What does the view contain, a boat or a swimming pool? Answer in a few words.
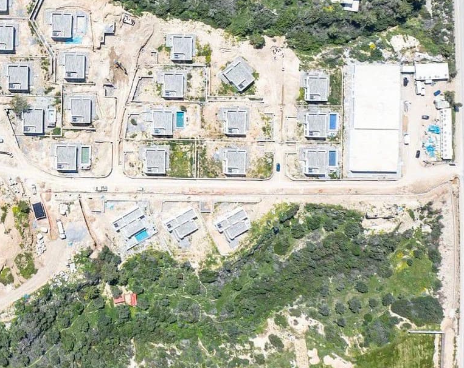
swimming pool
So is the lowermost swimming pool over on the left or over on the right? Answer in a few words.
left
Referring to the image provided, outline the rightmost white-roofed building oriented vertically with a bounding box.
[438,109,453,160]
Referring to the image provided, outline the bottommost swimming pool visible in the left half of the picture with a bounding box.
[122,223,157,248]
